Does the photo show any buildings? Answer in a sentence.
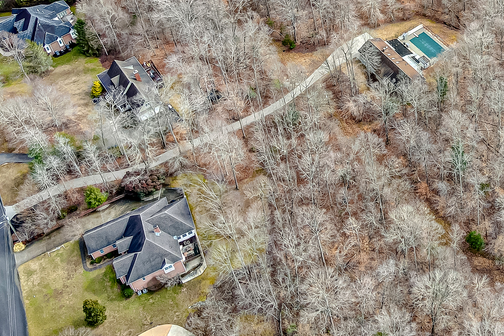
Yes, there's a building here.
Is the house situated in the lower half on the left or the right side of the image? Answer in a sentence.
It is on the left.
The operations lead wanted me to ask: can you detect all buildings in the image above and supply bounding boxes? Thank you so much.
[353,41,424,103]
[84,186,195,290]
[0,0,93,67]
[96,56,174,132]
